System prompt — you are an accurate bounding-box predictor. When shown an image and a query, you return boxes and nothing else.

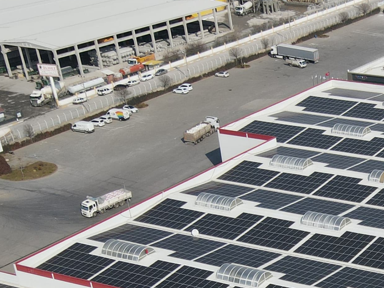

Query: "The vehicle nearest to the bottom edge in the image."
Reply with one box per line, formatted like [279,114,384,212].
[82,186,134,215]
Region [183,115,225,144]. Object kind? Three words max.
truck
